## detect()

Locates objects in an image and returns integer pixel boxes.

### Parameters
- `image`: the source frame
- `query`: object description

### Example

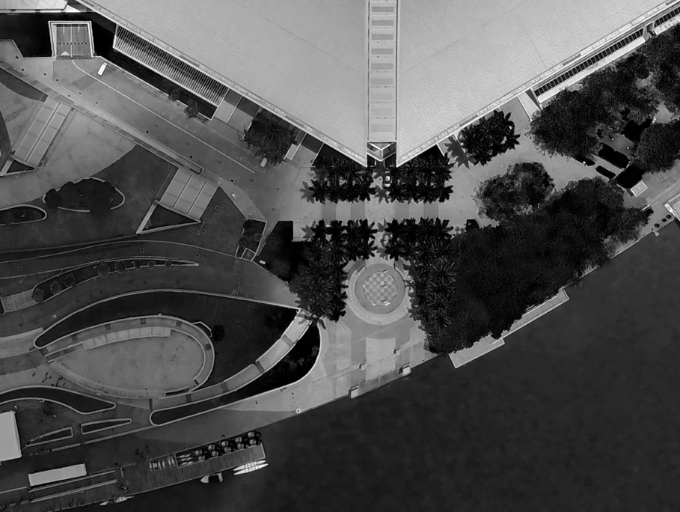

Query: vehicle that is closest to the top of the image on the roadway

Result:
[96,61,109,77]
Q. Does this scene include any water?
Yes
